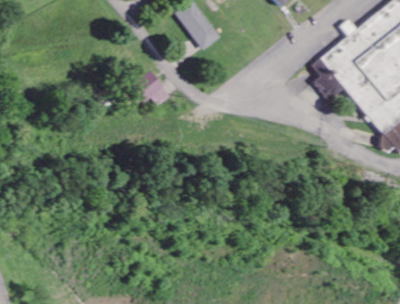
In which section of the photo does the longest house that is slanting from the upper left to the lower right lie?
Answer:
top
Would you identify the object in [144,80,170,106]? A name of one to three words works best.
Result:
house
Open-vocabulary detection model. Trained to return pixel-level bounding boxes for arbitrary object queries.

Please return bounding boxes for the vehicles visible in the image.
[286,32,296,45]
[308,14,318,28]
